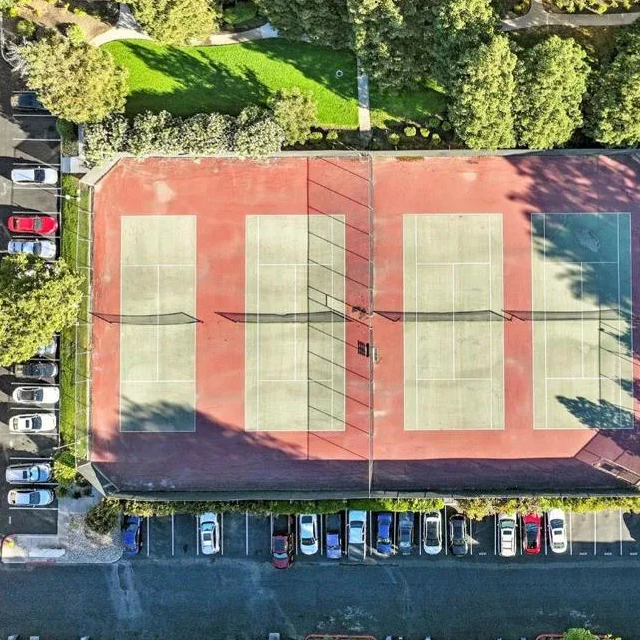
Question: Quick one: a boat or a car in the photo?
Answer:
car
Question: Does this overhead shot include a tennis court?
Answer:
Yes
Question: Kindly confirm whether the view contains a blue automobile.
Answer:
Yes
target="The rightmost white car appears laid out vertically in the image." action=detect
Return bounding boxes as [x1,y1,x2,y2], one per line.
[547,508,567,554]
